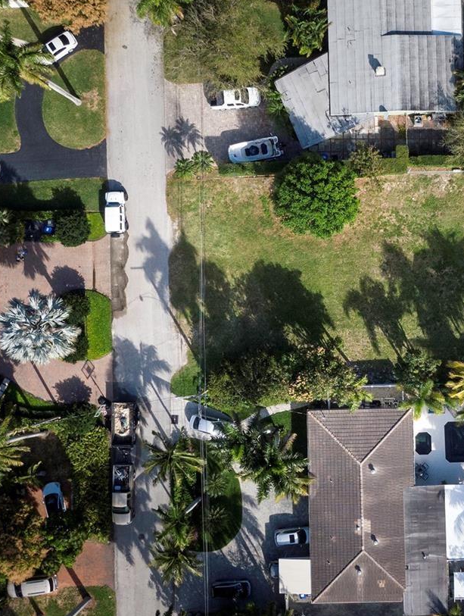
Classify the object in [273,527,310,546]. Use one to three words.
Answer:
car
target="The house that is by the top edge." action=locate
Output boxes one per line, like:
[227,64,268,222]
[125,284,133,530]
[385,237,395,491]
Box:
[276,0,463,148]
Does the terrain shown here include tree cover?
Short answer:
Yes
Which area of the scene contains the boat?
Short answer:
top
